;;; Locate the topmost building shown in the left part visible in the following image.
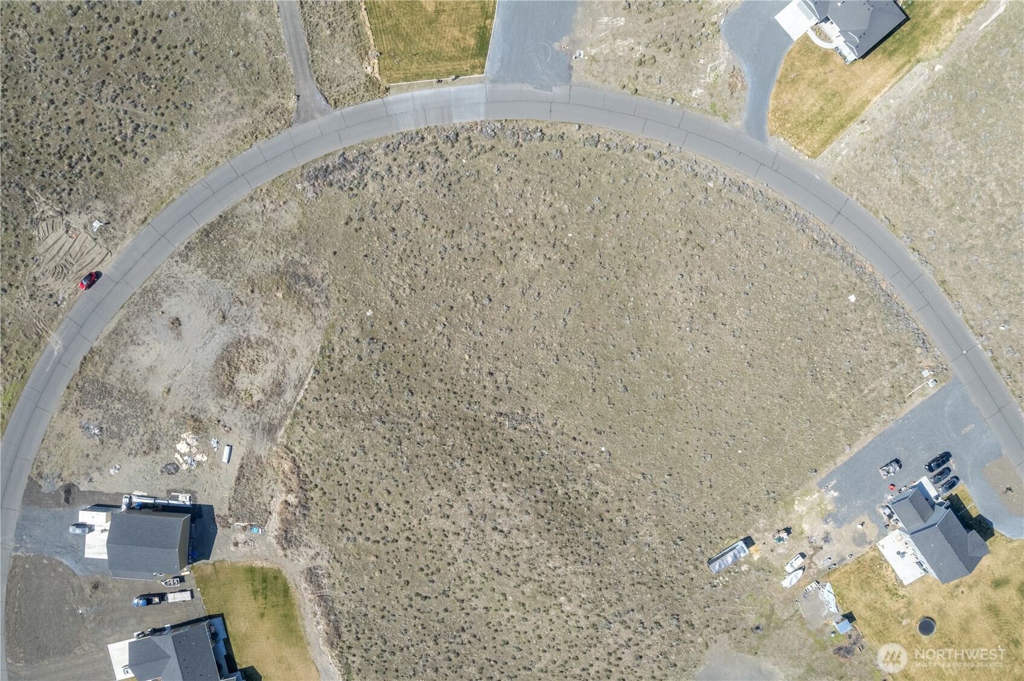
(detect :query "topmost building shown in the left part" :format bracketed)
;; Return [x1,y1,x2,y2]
[106,509,194,581]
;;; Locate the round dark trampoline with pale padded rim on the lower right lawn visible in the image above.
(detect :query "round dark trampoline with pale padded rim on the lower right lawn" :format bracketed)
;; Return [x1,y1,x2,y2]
[918,618,937,635]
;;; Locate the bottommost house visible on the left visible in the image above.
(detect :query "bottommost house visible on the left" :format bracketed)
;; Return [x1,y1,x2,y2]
[128,621,243,681]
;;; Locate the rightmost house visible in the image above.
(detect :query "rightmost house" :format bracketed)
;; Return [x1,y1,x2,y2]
[886,487,990,585]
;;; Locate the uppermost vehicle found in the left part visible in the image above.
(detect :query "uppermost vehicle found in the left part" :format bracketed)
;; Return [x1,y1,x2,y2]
[79,269,98,290]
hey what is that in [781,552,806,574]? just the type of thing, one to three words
camper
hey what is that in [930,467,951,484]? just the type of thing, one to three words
car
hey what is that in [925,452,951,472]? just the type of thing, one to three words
vehicle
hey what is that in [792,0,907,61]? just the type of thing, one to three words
house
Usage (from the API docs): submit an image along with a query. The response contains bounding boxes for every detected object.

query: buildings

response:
[832,614,851,632]
[886,487,990,585]
[128,621,243,681]
[106,509,194,581]
[792,0,907,61]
